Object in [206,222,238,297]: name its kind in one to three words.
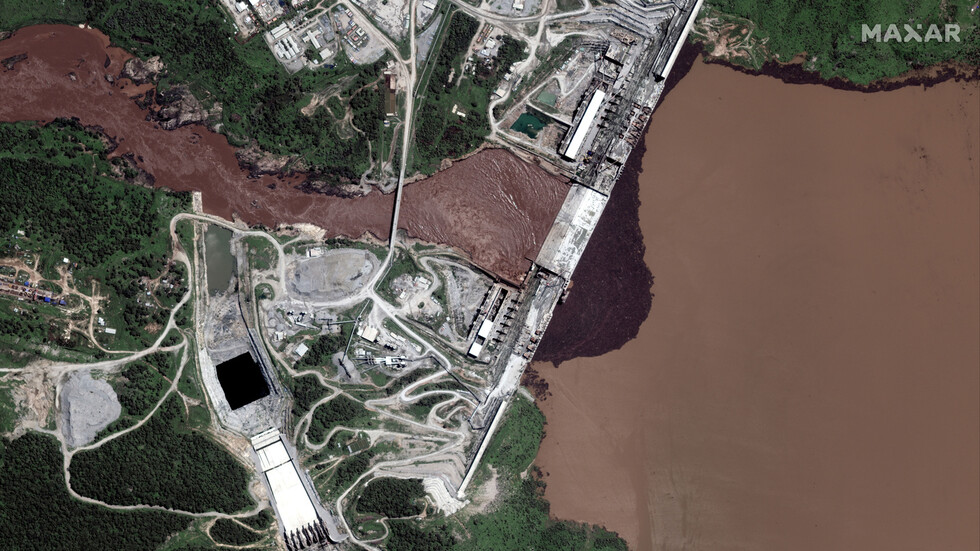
pond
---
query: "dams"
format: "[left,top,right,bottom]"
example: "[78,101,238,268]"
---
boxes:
[456,0,703,499]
